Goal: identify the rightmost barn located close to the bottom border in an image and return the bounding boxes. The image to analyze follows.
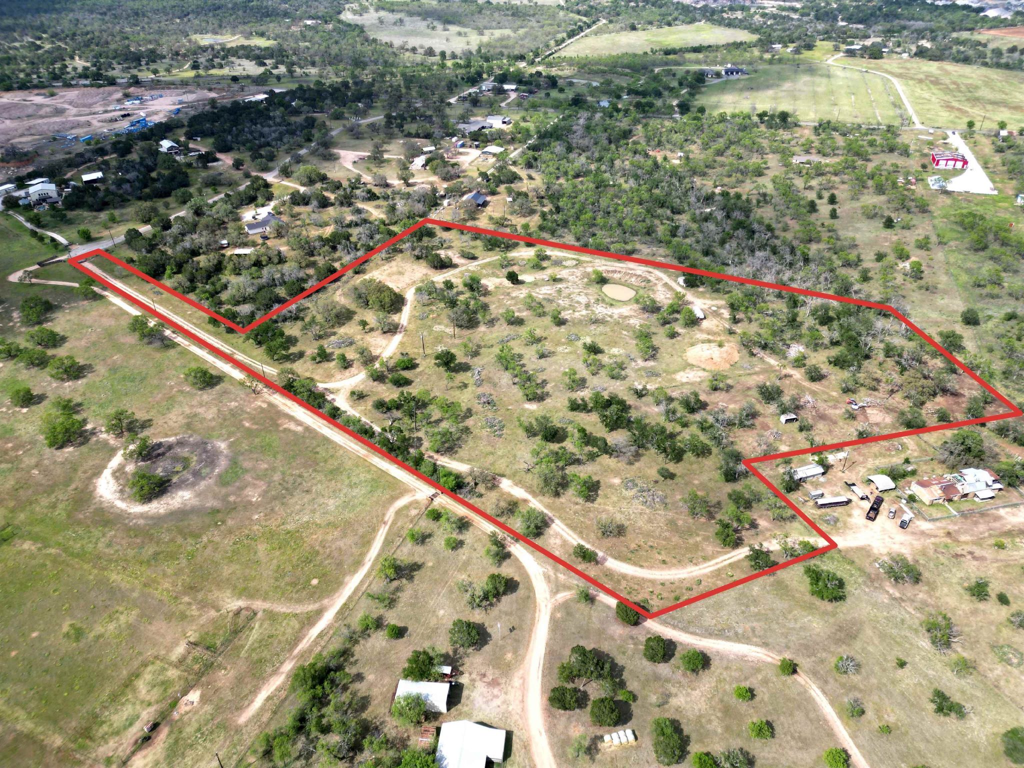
[434,720,506,768]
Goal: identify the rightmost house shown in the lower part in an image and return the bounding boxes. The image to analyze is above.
[904,449,995,506]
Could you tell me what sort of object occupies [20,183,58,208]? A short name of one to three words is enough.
house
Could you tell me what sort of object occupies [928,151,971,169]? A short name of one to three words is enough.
barn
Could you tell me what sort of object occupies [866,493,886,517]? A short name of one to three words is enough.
vehicle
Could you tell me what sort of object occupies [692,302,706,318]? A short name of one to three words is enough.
vehicle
